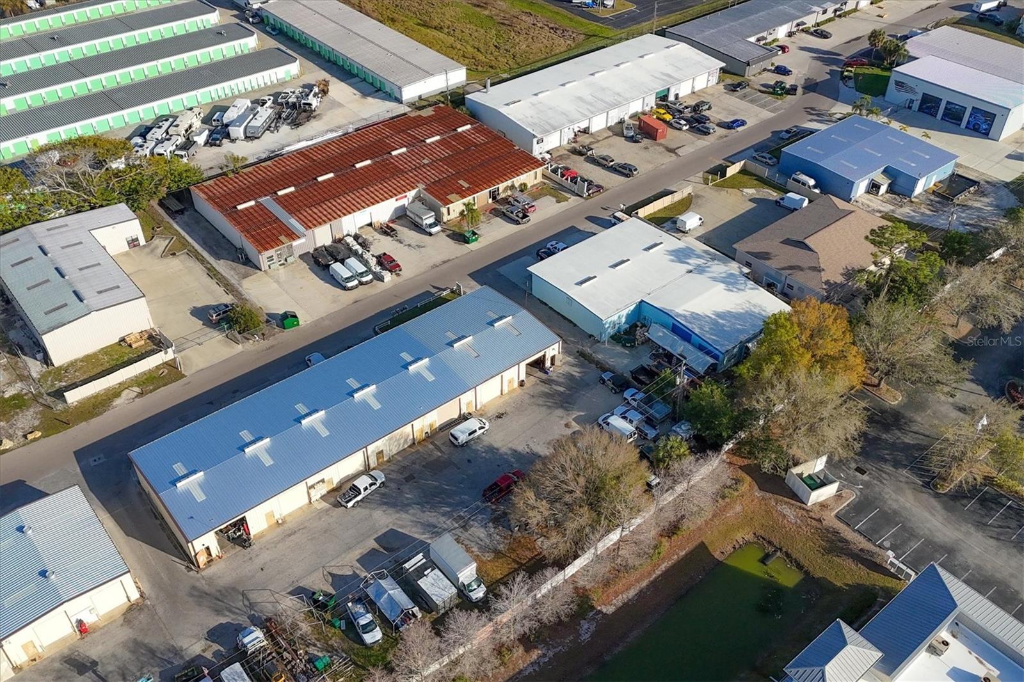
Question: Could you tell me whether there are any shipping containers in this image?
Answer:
Yes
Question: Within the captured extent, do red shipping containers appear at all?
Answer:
Yes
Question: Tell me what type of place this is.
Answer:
industrial area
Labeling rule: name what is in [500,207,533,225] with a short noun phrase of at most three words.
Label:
vehicle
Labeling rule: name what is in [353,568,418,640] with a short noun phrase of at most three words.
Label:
tent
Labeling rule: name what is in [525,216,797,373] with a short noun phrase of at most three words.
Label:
building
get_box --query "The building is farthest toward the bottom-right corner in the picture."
[777,561,1024,682]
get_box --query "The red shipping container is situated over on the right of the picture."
[638,114,668,141]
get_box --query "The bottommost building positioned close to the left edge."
[0,483,136,669]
